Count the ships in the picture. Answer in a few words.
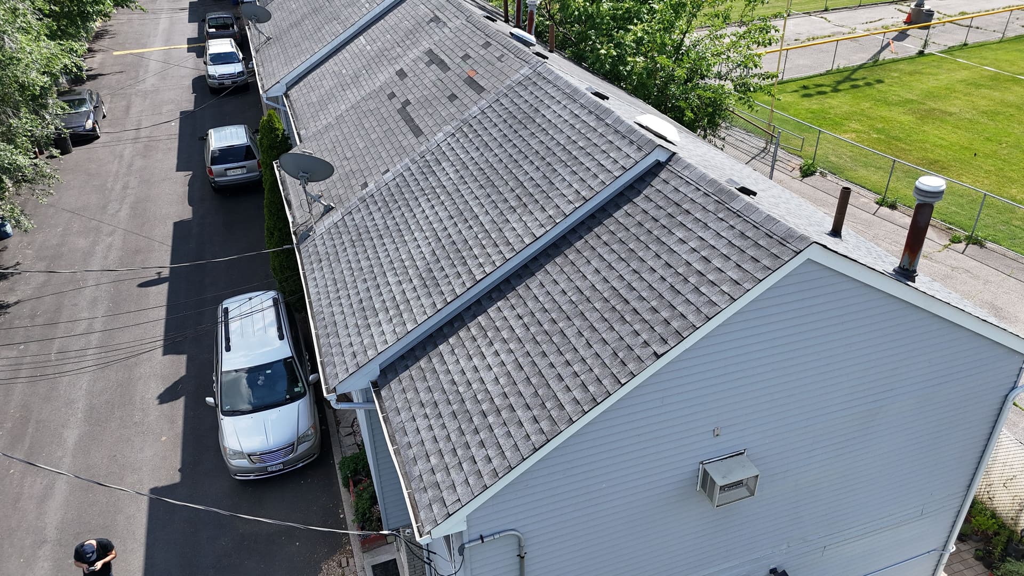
none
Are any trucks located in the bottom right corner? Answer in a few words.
No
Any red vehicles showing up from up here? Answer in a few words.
No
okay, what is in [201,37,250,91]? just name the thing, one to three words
car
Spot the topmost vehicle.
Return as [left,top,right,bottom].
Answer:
[203,10,242,43]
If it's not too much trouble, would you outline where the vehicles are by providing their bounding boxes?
[202,292,326,484]
[201,37,250,91]
[44,89,109,140]
[199,124,253,190]
[203,10,242,43]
